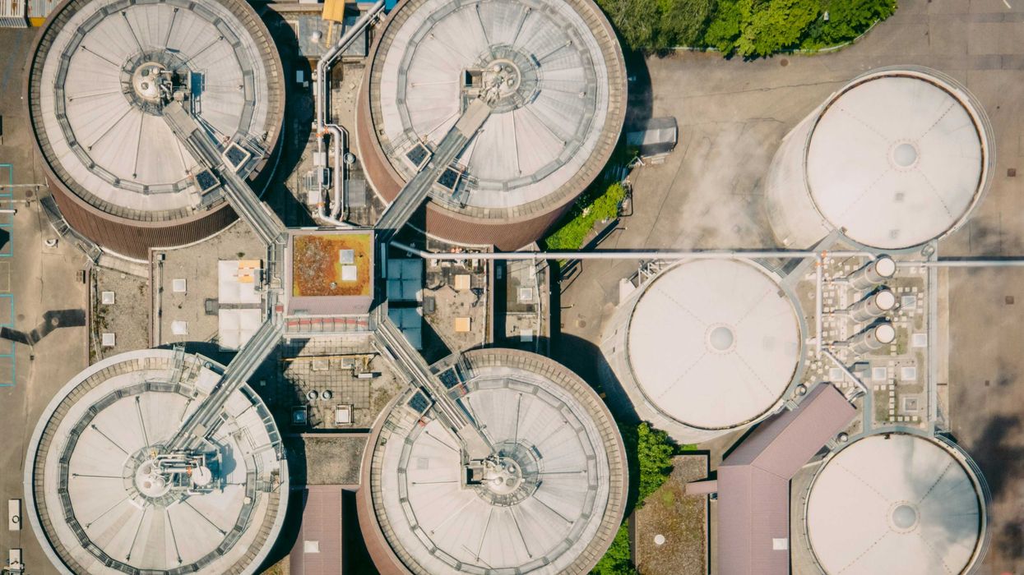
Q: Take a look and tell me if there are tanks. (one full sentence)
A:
Yes, the picture does show a tank.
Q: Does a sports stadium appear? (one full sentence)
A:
No, the picture doesn't show any sports stadium.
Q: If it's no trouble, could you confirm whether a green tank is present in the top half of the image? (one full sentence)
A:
No, in the top half of the image there is no green tank.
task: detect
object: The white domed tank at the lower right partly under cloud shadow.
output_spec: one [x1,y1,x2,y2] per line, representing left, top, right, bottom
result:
[788,428,997,575]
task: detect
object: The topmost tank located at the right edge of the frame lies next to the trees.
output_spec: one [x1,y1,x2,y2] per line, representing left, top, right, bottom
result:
[765,58,1001,257]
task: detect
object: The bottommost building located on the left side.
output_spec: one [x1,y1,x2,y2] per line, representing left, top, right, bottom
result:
[289,487,342,575]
